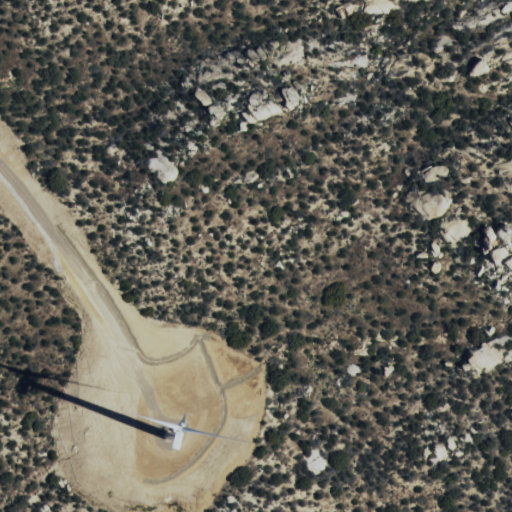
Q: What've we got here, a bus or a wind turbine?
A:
wind turbine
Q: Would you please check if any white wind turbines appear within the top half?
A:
No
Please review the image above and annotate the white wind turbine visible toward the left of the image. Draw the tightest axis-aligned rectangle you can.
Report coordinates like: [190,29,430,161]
[110,408,250,451]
